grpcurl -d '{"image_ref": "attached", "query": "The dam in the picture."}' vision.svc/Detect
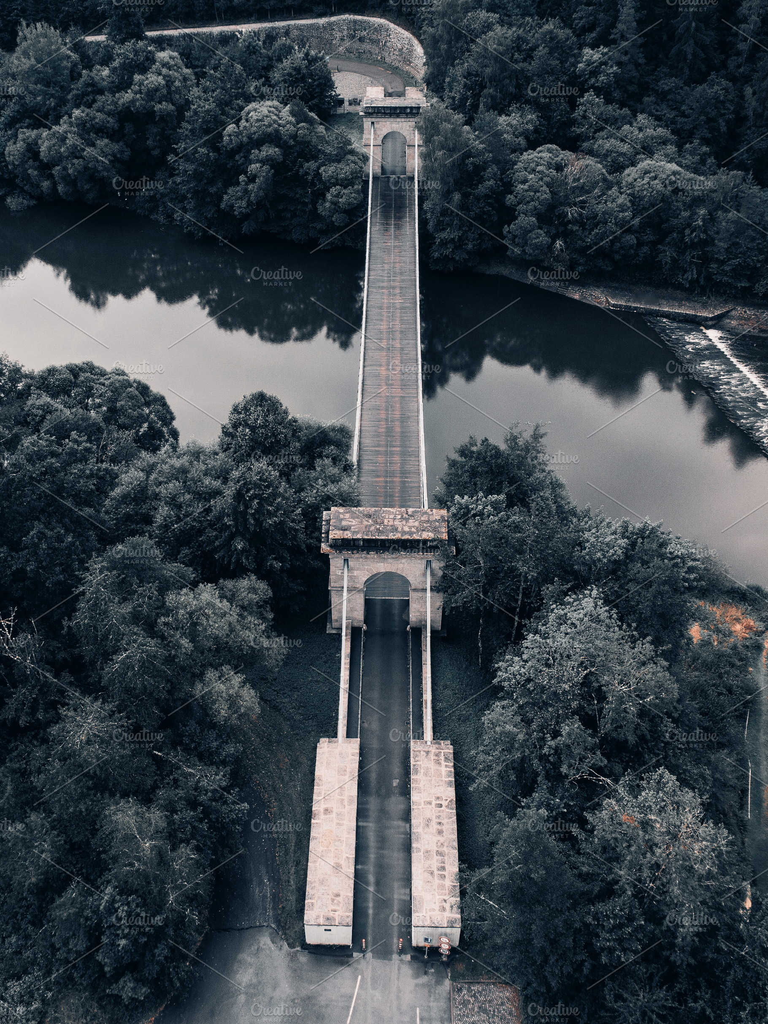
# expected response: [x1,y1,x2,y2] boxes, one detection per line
[643,314,768,457]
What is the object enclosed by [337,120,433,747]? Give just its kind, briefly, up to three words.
bridge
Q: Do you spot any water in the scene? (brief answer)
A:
Yes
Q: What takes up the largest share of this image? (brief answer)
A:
trees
